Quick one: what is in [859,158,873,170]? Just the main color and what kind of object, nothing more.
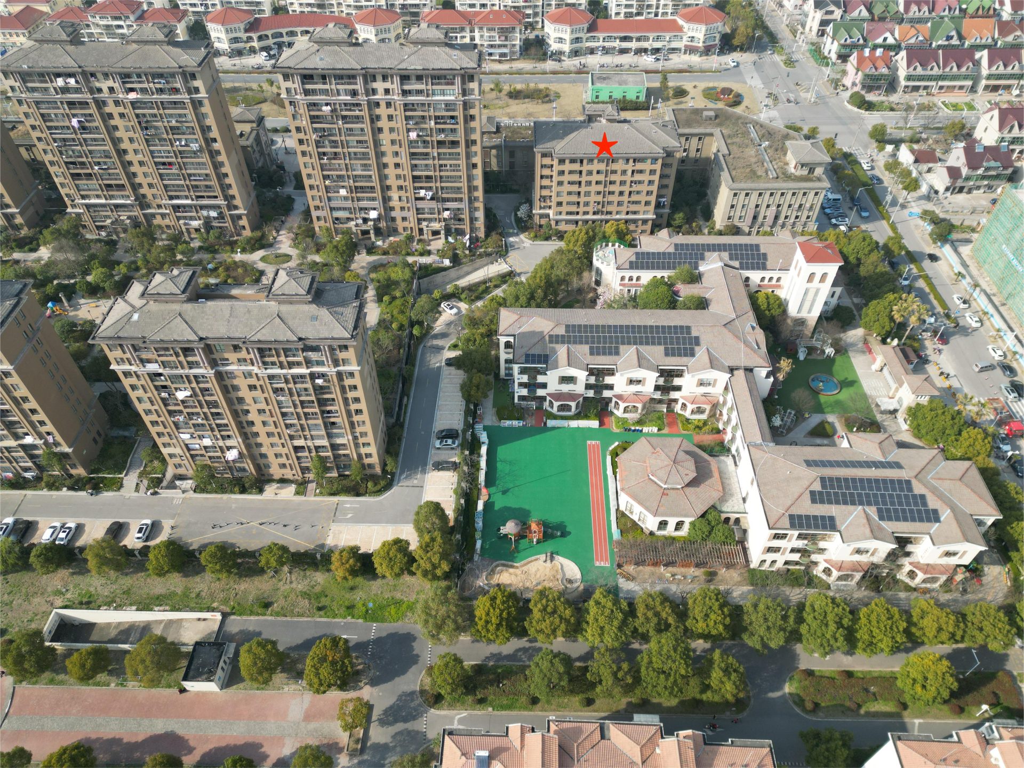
white vehicle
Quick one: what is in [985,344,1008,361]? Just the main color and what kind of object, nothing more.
white car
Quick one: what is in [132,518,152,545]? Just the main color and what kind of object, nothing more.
white car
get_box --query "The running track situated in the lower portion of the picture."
[587,441,610,565]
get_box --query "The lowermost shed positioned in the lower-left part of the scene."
[181,639,239,690]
